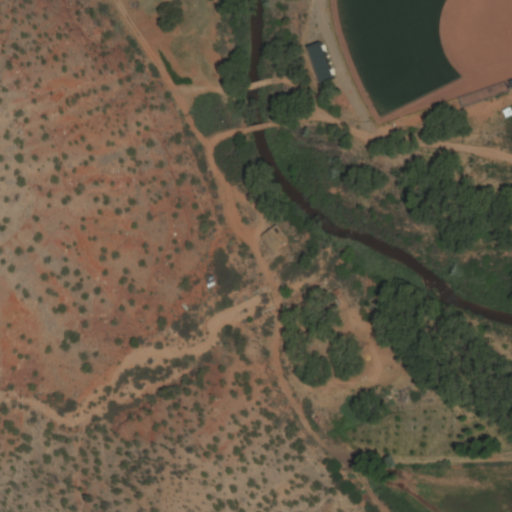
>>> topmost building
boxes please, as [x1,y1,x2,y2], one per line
[306,41,334,82]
